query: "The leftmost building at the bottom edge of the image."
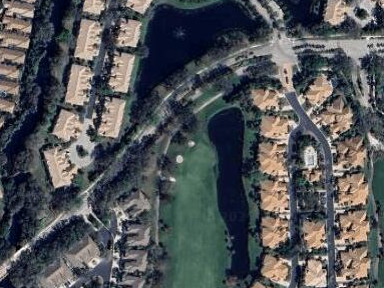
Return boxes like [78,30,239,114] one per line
[37,257,76,288]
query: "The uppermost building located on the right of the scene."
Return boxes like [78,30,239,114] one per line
[320,0,346,25]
